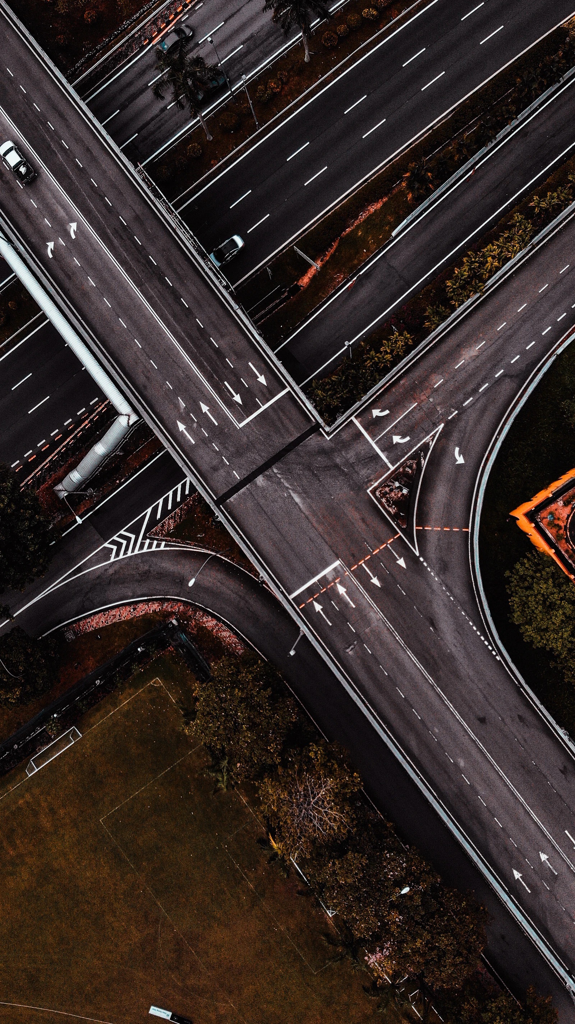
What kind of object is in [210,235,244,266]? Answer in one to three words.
car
